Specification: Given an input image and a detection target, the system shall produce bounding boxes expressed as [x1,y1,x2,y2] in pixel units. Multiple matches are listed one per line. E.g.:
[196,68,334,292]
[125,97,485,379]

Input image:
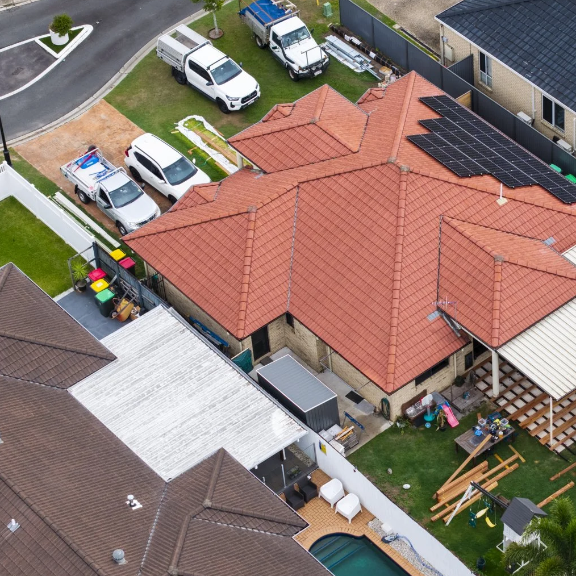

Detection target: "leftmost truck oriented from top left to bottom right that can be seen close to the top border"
[157,25,266,115]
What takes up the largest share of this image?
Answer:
buildings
